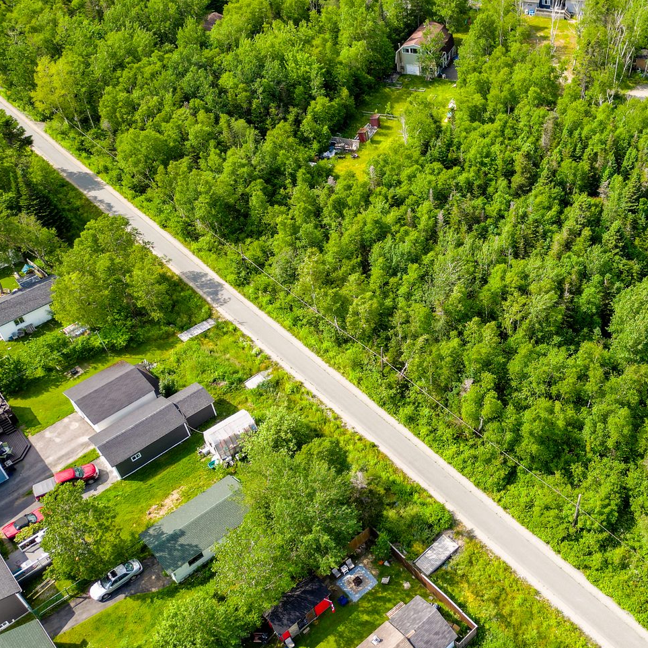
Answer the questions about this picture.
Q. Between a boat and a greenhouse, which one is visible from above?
greenhouse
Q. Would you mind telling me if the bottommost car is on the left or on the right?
left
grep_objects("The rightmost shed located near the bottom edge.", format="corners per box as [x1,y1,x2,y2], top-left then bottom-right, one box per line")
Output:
[391,594,458,648]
